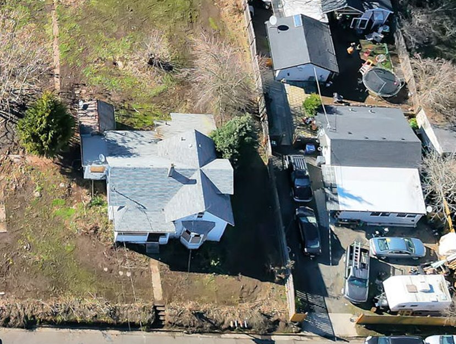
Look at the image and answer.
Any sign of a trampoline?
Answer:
Yes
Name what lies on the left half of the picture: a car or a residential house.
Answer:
residential house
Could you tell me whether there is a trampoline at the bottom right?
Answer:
No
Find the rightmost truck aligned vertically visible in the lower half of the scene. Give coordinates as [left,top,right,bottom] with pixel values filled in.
[343,237,372,309]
